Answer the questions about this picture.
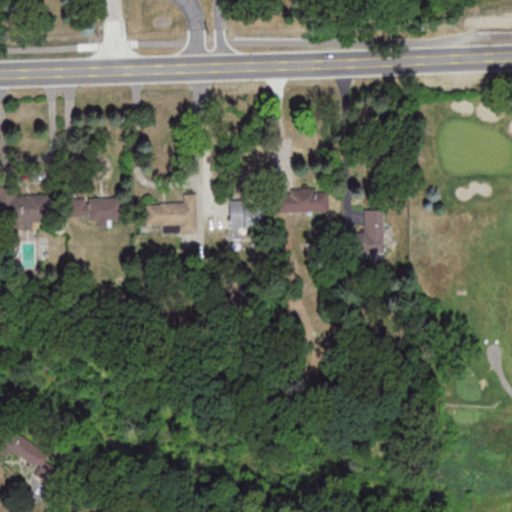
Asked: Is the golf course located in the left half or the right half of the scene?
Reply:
right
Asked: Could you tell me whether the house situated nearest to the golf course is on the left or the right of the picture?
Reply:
right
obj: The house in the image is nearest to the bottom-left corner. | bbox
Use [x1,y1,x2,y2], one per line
[2,432,48,480]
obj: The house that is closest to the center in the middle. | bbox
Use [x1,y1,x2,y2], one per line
[227,199,256,240]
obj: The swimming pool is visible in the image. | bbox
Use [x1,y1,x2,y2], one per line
[20,240,36,272]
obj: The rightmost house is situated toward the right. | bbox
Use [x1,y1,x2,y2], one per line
[358,210,384,253]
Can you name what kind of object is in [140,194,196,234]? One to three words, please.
house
